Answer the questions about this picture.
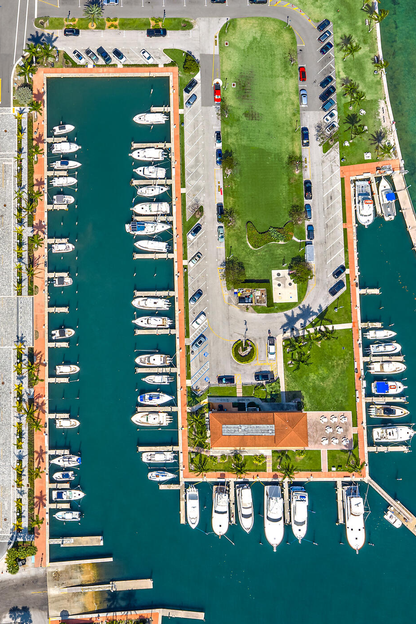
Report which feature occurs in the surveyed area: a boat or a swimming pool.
boat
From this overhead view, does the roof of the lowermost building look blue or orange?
orange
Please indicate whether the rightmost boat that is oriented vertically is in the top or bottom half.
top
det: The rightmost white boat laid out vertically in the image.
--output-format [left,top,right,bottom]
[378,175,397,222]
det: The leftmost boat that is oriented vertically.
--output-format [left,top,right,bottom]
[186,485,199,529]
